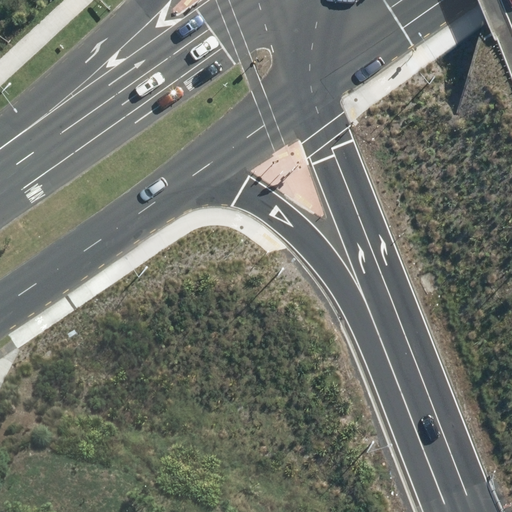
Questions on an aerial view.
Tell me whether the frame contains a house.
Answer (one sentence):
No, I can see no house in this picture.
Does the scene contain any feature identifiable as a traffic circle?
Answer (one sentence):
No, the picture doesn't show any traffic circle.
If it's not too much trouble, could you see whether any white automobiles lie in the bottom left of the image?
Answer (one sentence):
No, I can find no white automobile in the bottom left of the image.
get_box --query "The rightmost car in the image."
[422,414,440,442]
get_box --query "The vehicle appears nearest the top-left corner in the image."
[134,72,164,96]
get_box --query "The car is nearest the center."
[140,178,167,201]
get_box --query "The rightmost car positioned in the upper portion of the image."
[354,57,384,82]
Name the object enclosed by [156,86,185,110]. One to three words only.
car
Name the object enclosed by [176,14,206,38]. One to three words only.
car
